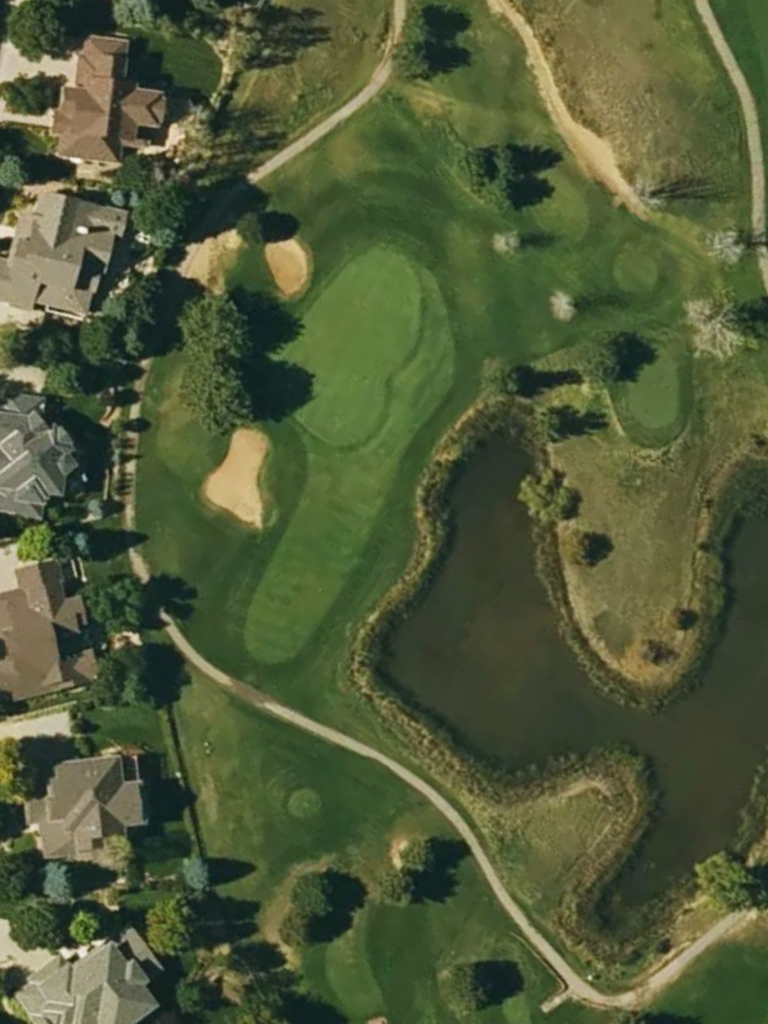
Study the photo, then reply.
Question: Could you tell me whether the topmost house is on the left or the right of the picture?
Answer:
left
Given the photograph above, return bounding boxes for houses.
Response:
[0,553,98,708]
[0,185,130,314]
[0,389,83,526]
[27,756,153,876]
[52,33,166,167]
[13,933,164,1024]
